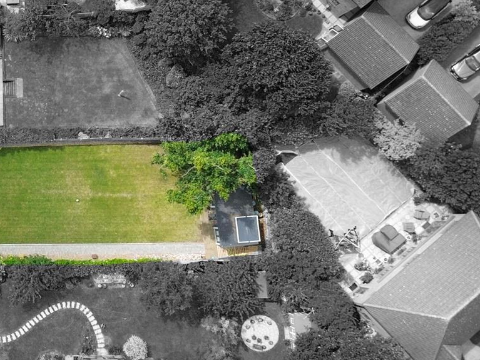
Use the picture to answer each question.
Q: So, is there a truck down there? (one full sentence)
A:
No, no truck is visible in the scene.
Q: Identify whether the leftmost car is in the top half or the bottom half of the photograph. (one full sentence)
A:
The top half of the photo is where the leftmost car is.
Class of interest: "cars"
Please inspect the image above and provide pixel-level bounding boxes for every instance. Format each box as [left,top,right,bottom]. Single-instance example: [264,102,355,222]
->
[407,0,452,28]
[449,46,480,79]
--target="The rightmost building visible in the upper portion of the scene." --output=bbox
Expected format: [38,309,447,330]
[374,60,480,148]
